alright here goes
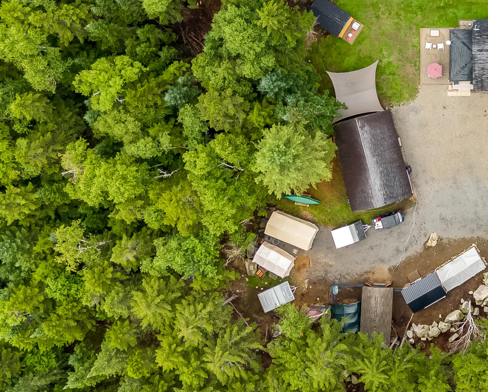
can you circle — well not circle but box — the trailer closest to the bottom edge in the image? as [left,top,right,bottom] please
[259,280,299,312]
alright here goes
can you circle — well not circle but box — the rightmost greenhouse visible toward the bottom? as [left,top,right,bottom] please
[437,246,487,291]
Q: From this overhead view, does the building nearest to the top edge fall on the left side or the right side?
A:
right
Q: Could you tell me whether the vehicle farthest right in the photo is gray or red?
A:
gray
